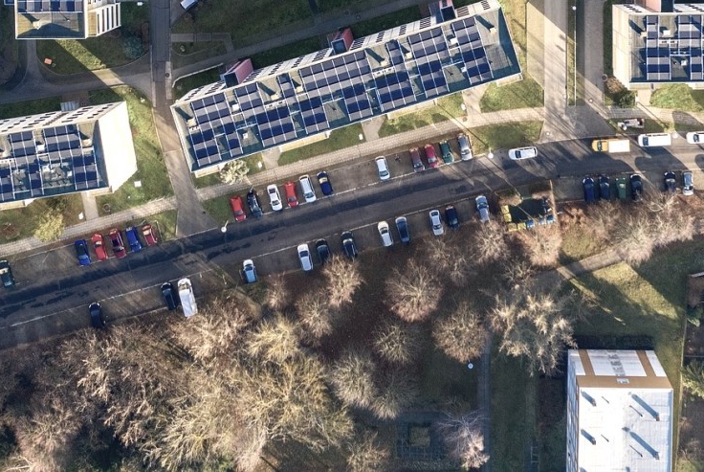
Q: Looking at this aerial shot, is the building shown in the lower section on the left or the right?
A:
right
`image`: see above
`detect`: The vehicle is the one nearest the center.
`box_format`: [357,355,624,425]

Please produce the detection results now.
[341,230,358,261]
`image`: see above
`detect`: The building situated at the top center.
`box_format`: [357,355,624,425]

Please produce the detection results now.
[171,0,521,182]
